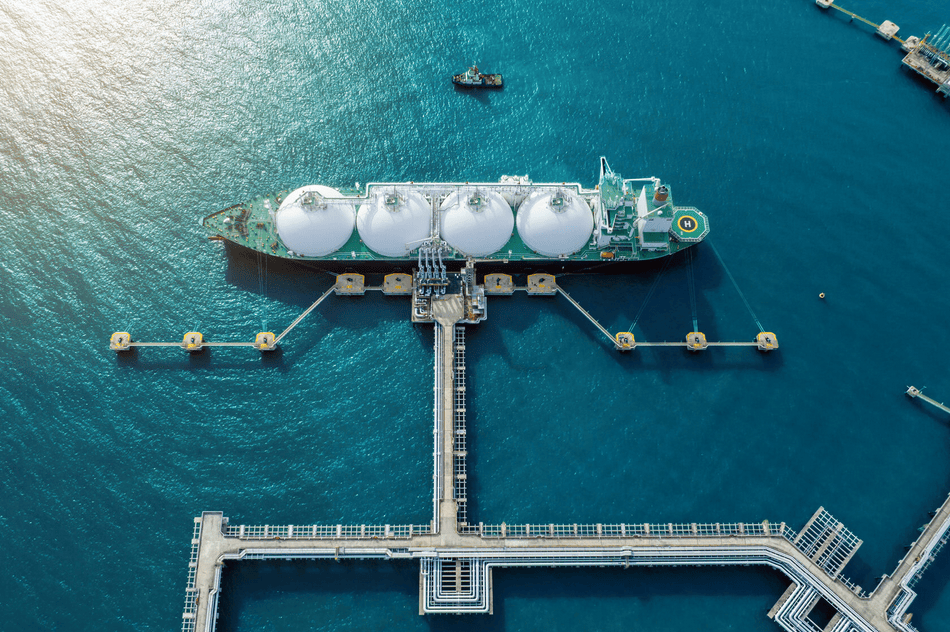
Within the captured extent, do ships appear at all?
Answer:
Yes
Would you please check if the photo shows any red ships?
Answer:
No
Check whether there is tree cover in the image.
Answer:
No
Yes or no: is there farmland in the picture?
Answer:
No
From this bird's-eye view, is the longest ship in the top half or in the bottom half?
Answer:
top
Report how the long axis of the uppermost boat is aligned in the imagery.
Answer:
horizontally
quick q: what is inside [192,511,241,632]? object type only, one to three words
pier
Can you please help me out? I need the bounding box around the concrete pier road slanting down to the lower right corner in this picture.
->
[777,538,903,632]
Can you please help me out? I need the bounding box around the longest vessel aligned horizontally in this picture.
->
[198,160,710,277]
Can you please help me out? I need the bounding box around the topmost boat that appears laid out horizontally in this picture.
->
[451,63,502,88]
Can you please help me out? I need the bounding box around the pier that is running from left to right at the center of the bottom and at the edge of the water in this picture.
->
[224,533,787,566]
